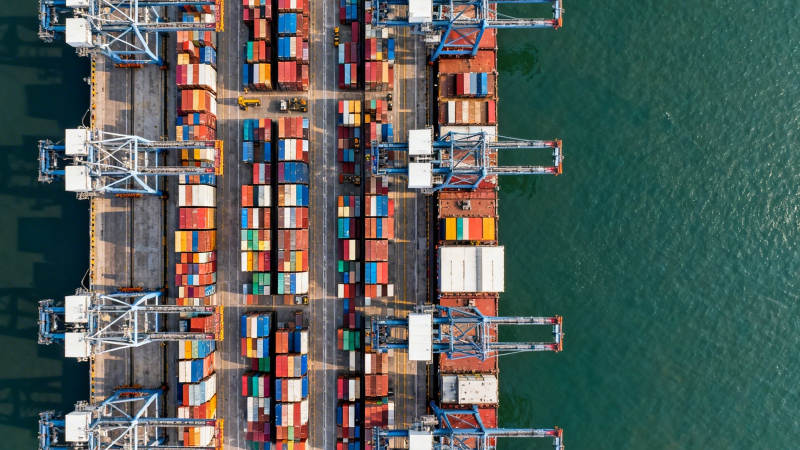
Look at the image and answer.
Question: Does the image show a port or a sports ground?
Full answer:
It's a port.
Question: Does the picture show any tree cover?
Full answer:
No, tree cover can't be seen anywhere here.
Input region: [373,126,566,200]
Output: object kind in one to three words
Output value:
container crane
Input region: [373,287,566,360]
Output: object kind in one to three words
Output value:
container crane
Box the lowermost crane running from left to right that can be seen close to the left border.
[32,377,225,450]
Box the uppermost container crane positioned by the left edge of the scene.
[32,0,225,72]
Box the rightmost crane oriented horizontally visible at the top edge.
[373,0,566,70]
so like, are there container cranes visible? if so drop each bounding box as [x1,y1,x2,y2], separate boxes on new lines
[32,0,225,72]
[373,0,566,70]
[32,276,225,357]
[32,126,225,200]
[373,287,566,360]
[373,126,566,200]
[373,388,566,450]
[32,377,225,450]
